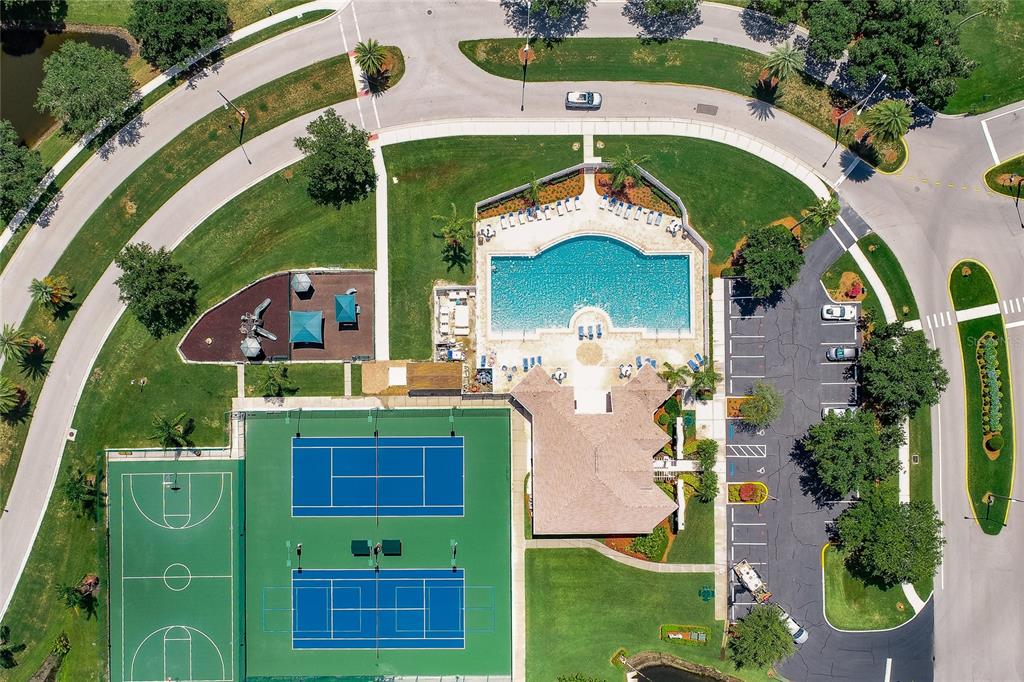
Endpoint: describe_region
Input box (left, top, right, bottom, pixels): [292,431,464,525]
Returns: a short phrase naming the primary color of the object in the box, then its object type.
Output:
blue tennis court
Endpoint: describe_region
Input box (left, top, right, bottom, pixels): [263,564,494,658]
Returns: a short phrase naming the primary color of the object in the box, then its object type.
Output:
blue tennis court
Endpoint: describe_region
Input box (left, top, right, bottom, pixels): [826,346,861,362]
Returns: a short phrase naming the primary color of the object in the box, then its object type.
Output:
gray car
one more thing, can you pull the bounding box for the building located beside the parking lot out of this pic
[508,363,678,536]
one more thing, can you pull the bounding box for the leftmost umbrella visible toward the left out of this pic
[241,338,261,356]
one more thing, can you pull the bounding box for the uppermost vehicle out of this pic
[566,92,602,110]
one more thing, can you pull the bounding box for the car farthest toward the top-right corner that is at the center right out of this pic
[822,304,857,321]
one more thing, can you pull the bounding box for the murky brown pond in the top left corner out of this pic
[0,35,131,171]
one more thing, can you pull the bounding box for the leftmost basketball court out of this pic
[108,459,244,682]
